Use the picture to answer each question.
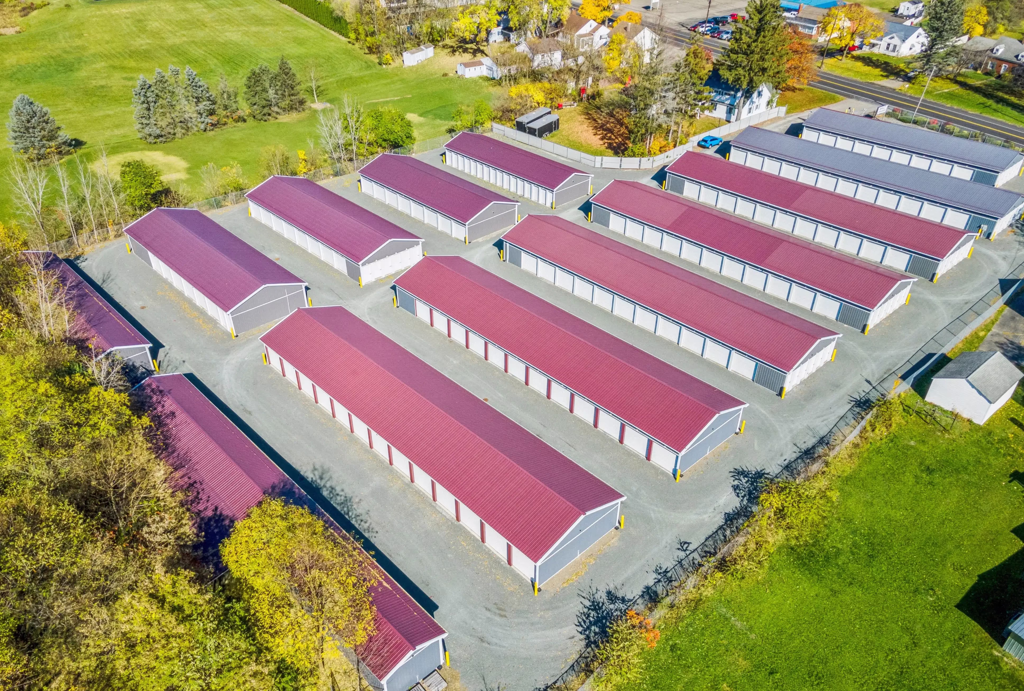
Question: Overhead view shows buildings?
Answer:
Yes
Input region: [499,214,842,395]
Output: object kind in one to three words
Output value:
building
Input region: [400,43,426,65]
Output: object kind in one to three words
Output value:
shed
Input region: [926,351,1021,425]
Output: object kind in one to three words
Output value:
building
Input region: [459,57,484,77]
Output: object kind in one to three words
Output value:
shed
